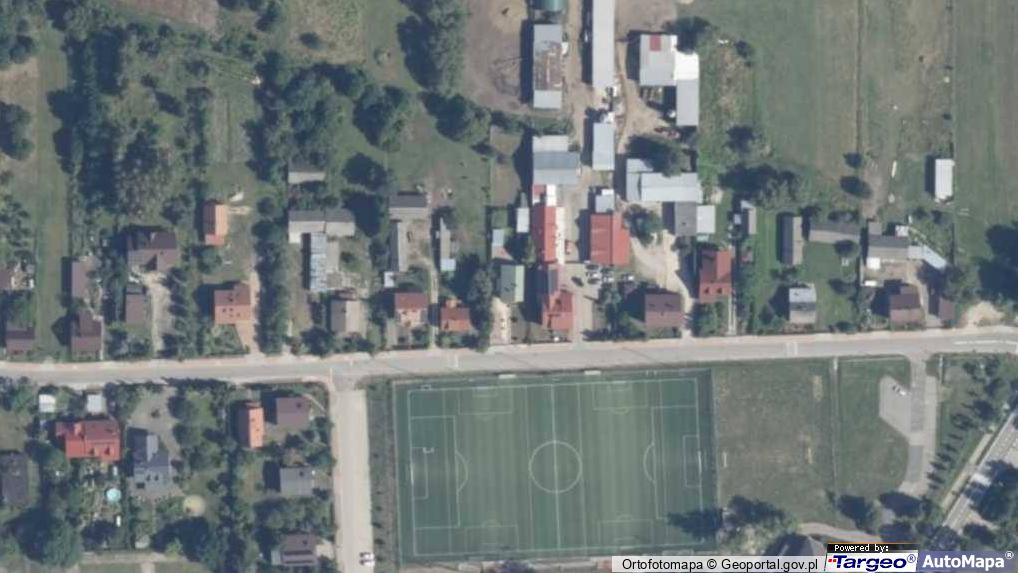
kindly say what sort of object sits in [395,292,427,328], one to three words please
house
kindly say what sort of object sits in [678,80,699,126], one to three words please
shed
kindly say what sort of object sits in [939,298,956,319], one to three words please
building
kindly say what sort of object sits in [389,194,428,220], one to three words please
barn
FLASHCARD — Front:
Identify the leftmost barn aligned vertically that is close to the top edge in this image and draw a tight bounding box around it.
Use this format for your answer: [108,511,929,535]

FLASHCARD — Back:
[534,24,562,108]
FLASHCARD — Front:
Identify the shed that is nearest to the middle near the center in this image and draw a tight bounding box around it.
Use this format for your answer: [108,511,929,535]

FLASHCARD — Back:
[500,265,525,302]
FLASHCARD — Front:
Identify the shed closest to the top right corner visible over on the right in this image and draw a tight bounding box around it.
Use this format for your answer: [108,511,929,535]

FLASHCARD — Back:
[935,159,953,199]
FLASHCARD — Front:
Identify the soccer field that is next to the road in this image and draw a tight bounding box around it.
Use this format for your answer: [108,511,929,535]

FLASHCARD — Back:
[393,370,717,562]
